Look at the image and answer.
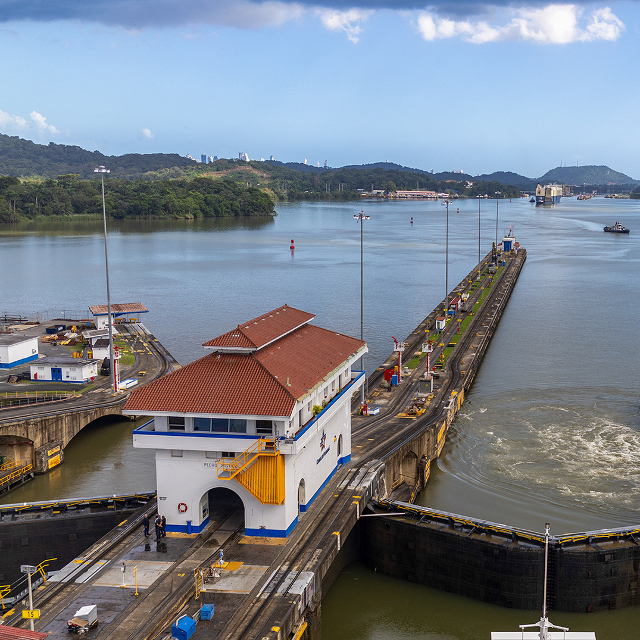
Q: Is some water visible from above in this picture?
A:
Yes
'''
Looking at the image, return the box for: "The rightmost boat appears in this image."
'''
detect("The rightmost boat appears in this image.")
[602,217,630,232]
